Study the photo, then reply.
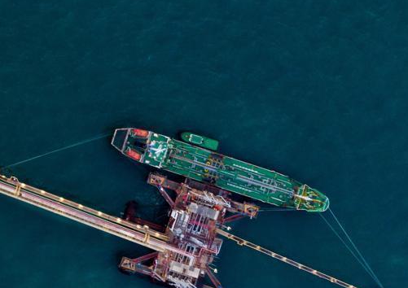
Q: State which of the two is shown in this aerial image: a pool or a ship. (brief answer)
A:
ship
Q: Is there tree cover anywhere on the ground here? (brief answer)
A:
No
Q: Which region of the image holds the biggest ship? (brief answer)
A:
center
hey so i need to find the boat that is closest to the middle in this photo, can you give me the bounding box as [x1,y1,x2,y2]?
[180,131,219,150]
